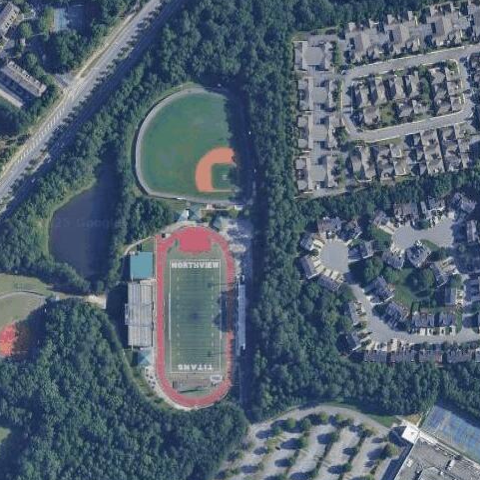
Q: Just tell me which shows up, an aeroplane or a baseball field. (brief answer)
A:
baseball field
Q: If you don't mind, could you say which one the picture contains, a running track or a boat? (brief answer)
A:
running track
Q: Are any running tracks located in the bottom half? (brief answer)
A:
Yes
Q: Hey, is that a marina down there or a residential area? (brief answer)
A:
residential area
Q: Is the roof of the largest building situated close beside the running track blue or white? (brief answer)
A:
blue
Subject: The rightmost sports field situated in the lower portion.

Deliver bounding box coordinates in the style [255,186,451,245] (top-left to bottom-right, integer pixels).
[164,240,226,401]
